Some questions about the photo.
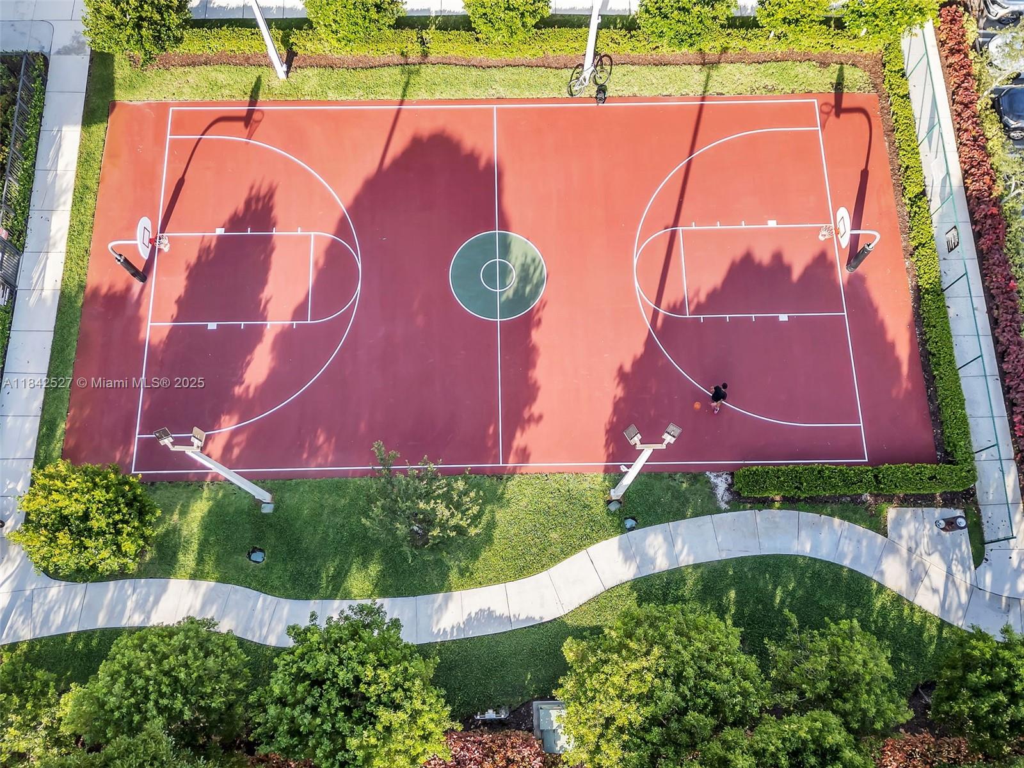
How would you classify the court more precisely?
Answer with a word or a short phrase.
basketball court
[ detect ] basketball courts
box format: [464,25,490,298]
[60,93,937,483]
